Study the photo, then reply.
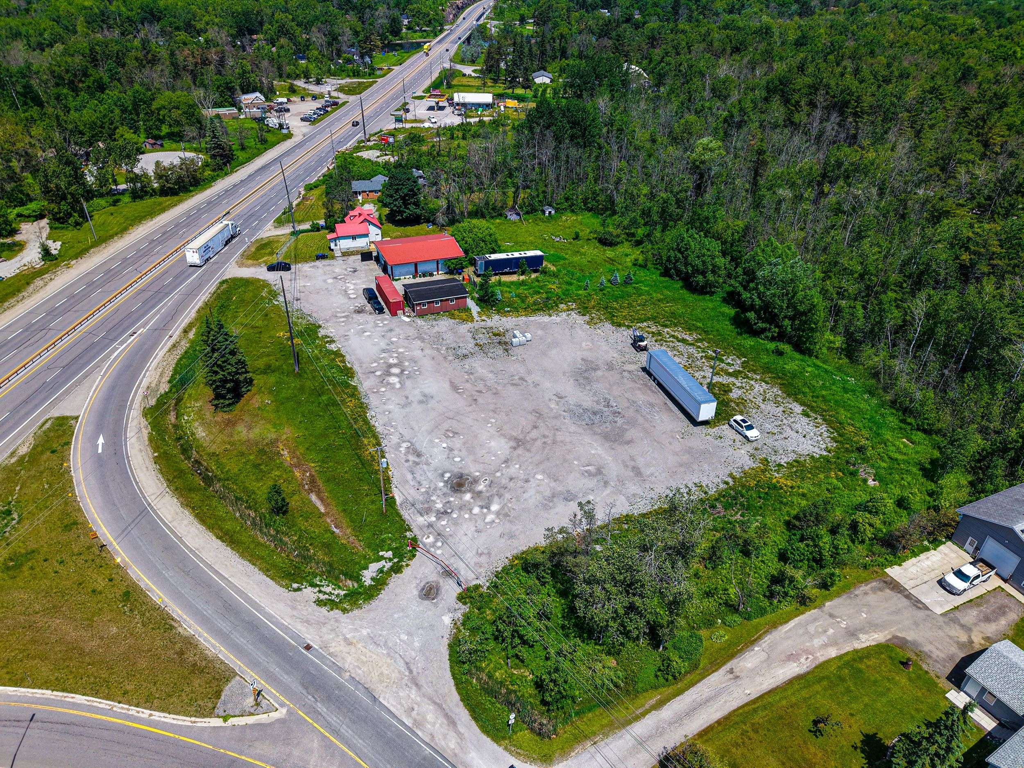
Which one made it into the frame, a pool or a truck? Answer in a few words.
truck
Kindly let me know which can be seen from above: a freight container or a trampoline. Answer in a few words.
freight container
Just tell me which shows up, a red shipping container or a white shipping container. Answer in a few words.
red shipping container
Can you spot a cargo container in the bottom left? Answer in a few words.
No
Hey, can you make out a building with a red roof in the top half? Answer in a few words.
Yes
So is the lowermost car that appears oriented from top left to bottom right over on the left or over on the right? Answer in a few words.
right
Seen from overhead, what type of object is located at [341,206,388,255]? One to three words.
house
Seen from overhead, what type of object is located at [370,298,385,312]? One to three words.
car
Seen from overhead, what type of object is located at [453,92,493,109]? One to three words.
building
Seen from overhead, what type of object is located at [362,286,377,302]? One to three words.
car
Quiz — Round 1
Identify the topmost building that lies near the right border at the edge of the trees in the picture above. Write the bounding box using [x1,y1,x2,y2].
[952,491,1024,595]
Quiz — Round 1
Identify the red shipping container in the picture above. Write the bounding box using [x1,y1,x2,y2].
[376,276,405,315]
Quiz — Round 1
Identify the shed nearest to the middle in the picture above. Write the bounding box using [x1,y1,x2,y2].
[402,277,468,315]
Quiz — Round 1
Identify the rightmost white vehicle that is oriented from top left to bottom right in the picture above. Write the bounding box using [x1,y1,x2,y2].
[727,414,760,441]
